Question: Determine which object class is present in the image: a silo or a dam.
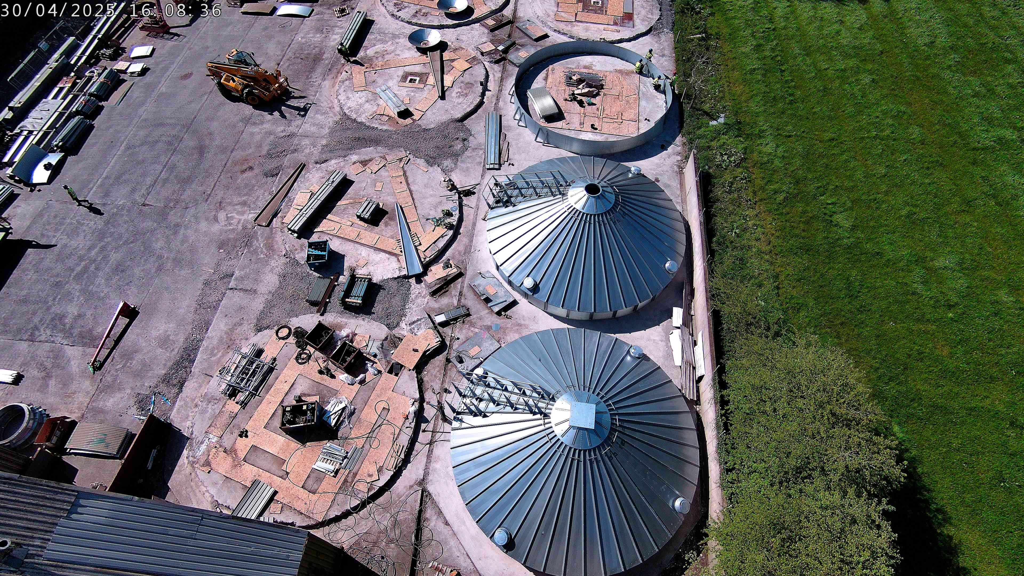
silo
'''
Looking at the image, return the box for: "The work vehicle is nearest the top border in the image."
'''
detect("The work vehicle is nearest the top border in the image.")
[201,47,304,111]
